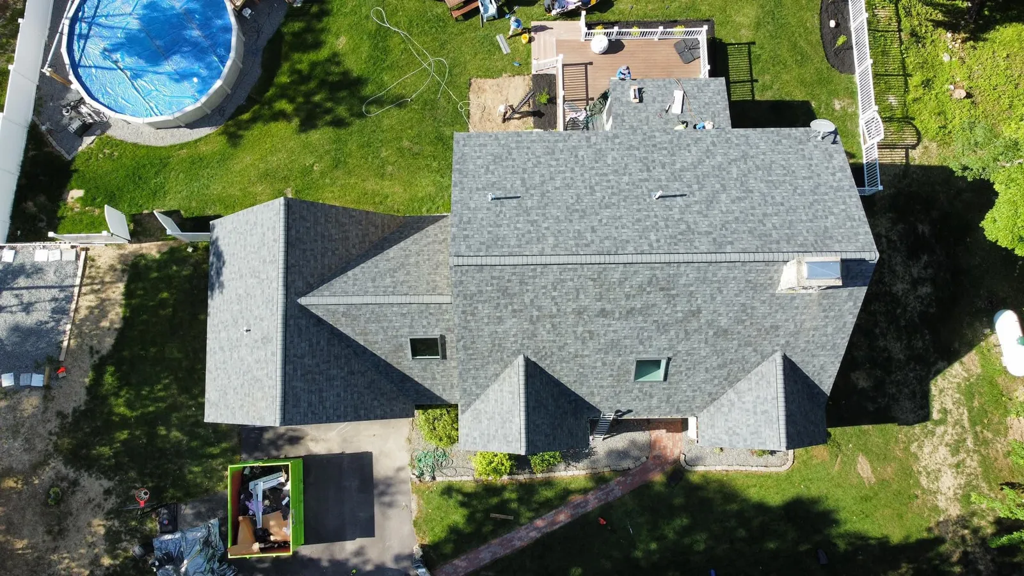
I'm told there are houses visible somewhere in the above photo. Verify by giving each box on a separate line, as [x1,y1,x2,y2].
[203,78,879,455]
